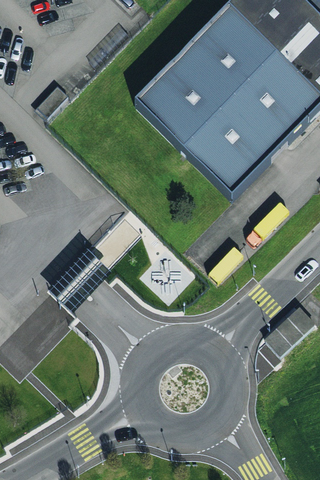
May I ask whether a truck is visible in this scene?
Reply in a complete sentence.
Yes, the image includes a truck.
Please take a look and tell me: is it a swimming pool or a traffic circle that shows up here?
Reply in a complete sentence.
There is a traffic circle in the scene.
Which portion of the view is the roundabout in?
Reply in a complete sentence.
You can find the roundabout in the bottom area of the picture.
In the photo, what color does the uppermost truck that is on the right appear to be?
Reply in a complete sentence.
The uppermost truck that is on the right is yellow.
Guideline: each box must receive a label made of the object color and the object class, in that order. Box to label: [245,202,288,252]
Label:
yellow truck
